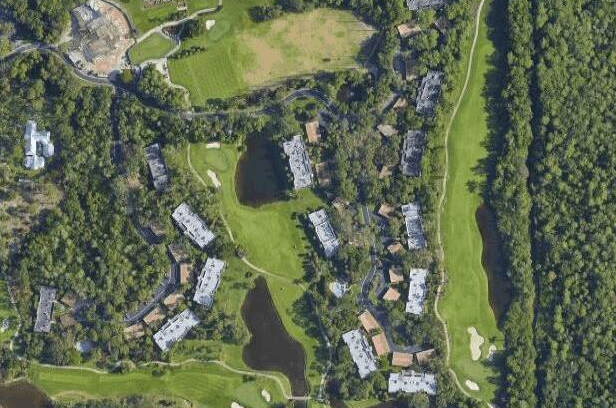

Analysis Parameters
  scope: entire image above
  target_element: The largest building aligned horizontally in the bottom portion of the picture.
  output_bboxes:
[390,373,436,394]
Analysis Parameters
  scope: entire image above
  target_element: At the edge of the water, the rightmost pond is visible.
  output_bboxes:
[477,202,512,327]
